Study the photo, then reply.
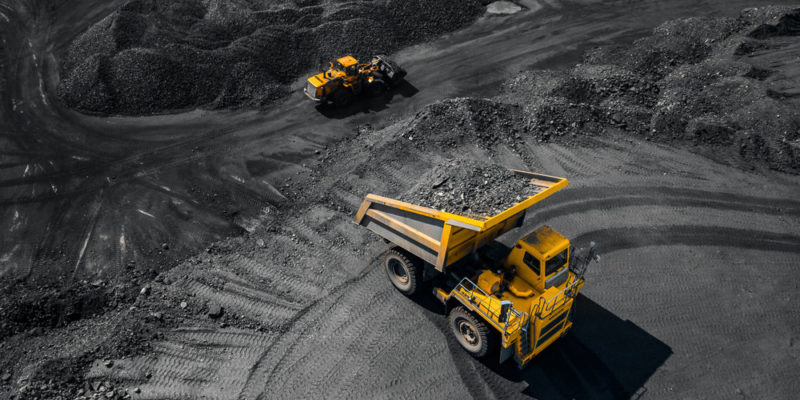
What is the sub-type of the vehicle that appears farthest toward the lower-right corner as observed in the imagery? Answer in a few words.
truck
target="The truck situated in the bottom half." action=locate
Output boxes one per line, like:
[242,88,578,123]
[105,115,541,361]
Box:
[356,171,602,370]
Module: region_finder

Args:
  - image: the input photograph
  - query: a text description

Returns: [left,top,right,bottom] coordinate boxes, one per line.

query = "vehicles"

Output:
[305,54,410,110]
[356,171,602,370]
